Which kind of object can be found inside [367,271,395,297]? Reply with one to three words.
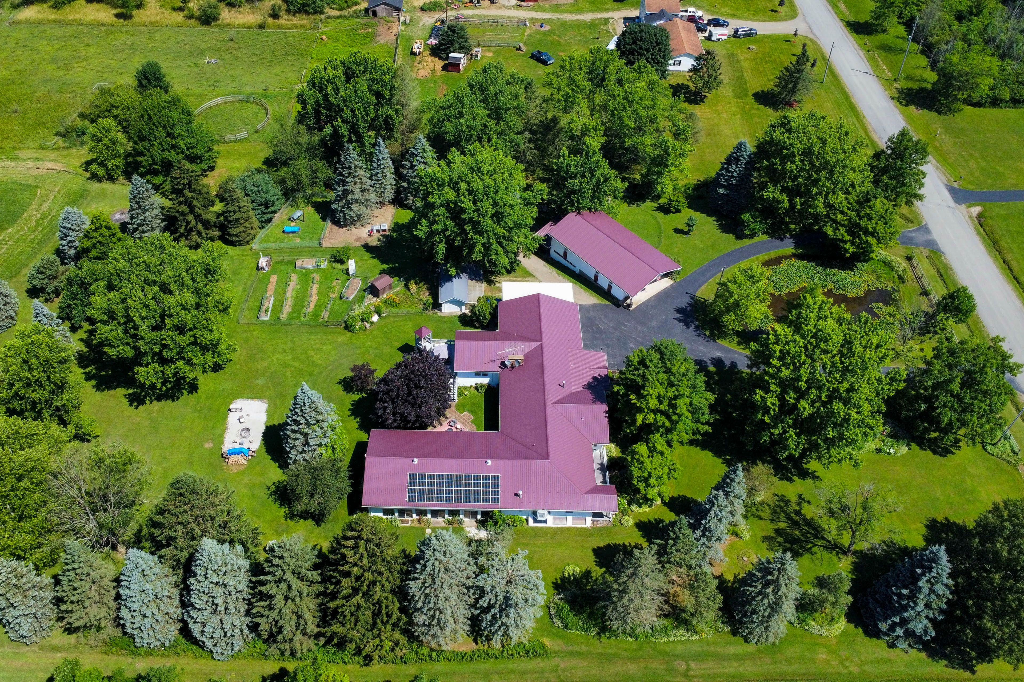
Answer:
shed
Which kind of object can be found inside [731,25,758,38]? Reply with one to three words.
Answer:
vehicle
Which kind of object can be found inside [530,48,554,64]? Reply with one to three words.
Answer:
vehicle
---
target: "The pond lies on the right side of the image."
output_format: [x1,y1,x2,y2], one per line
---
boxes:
[760,257,902,324]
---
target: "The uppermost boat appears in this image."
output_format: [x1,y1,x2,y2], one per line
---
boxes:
[410,36,424,54]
